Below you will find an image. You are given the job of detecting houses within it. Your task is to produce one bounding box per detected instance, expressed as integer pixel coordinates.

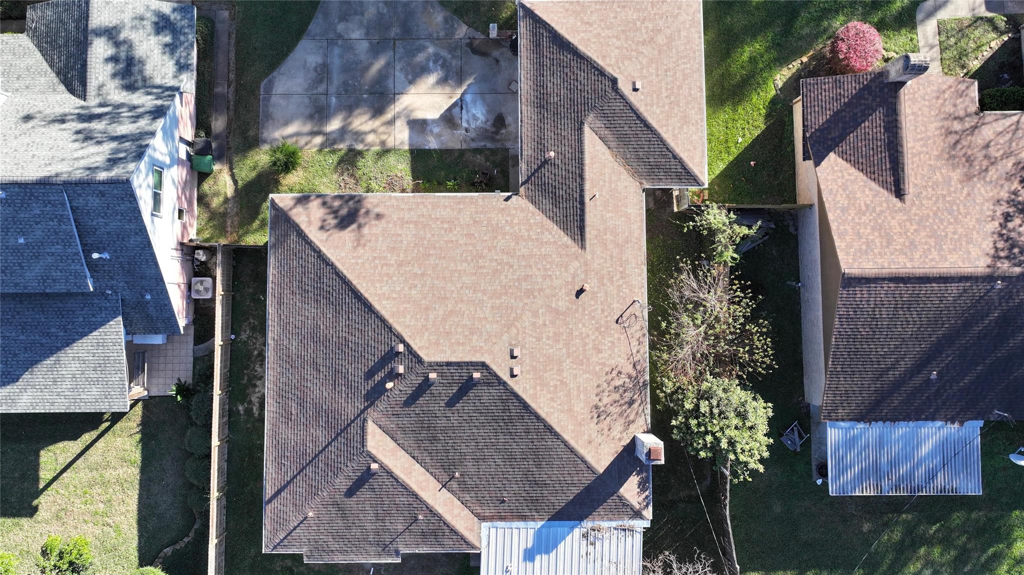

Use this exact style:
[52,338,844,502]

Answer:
[0,0,200,414]
[262,0,708,565]
[794,58,1024,421]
